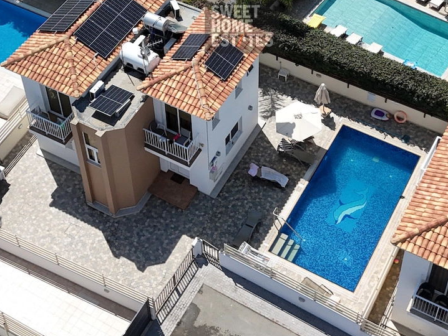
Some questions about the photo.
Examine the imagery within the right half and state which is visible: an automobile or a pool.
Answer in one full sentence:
The feature located within the right half is a pool.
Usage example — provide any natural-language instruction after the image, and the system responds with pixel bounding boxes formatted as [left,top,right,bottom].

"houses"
[382,124,448,336]
[0,0,275,220]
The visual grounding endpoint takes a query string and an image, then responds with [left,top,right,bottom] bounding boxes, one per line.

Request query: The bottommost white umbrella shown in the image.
[271,106,331,149]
